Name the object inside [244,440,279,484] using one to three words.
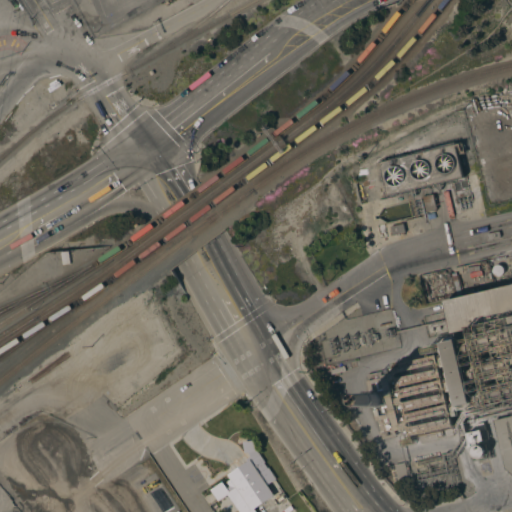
building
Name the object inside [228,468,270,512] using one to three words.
building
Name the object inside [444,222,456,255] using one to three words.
vehicle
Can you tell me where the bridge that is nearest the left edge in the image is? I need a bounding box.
[154,186,245,267]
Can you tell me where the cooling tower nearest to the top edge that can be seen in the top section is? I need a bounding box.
[381,141,468,198]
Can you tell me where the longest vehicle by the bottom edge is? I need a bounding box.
[334,451,363,490]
